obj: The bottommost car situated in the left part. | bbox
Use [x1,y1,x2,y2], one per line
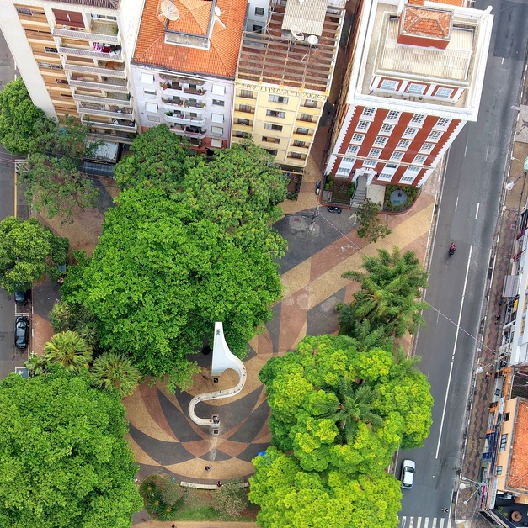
[12,314,30,349]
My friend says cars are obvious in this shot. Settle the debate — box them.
[12,314,30,349]
[399,458,416,490]
[14,286,28,310]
